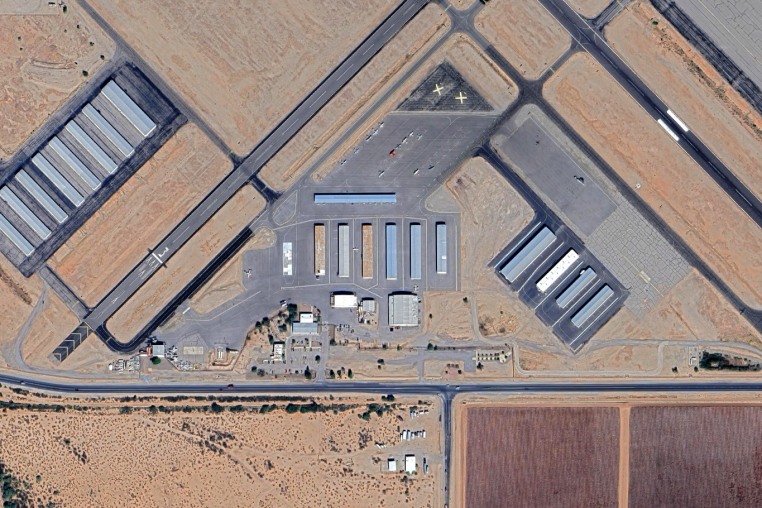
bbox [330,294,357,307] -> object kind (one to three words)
hangar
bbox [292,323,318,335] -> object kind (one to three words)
building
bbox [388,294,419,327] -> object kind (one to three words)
hangar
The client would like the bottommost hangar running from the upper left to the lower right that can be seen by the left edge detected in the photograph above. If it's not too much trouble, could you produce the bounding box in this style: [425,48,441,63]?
[0,215,35,257]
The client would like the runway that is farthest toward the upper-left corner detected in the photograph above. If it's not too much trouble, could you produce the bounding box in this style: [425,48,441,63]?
[82,0,426,332]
